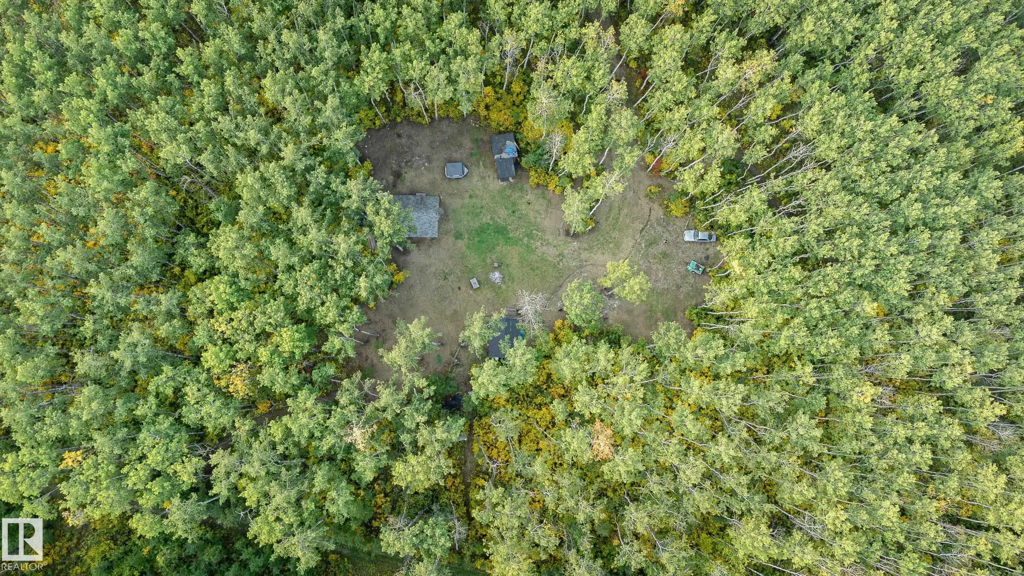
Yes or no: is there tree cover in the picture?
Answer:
Yes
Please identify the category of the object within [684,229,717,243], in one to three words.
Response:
car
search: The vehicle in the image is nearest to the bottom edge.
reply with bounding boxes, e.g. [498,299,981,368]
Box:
[687,260,705,275]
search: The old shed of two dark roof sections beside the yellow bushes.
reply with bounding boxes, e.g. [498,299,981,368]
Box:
[492,133,517,184]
